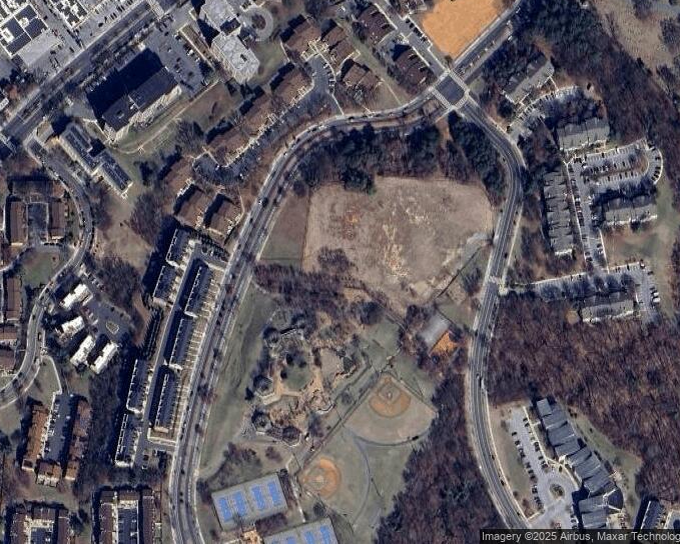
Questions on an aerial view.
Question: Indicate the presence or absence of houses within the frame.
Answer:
Yes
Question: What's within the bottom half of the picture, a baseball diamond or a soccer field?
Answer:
baseball diamond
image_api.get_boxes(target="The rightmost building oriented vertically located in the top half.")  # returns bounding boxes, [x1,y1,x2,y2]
[544,171,574,258]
